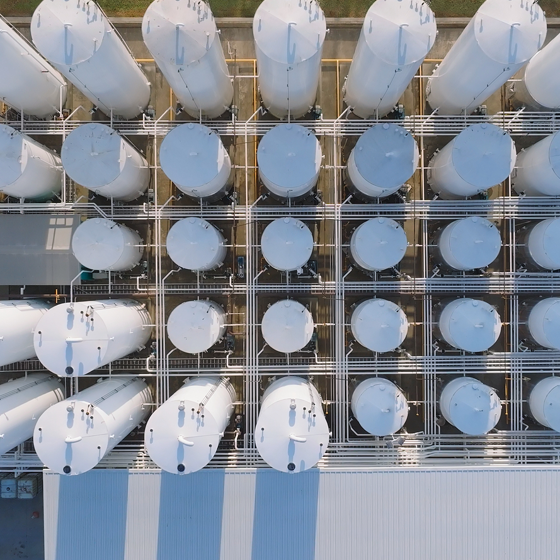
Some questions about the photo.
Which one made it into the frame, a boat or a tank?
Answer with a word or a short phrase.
tank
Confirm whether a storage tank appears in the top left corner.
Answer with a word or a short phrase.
Yes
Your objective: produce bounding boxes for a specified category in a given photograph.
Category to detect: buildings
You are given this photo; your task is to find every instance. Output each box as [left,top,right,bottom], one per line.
[42,466,560,560]
[0,214,88,292]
